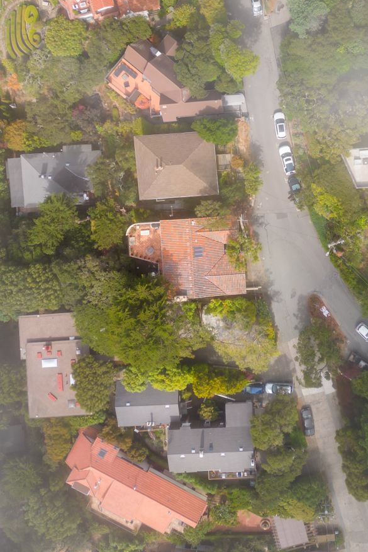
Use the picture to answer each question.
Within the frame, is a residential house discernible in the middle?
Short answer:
Yes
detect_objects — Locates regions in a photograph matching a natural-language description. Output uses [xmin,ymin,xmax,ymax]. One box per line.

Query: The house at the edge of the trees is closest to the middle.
[127,216,247,303]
